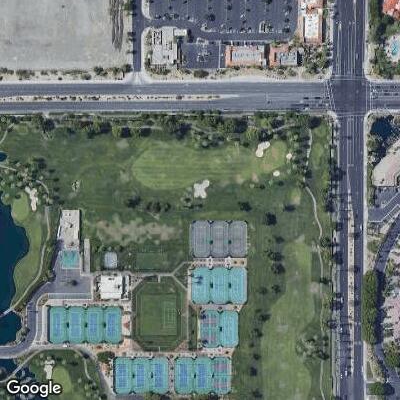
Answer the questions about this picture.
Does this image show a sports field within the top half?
No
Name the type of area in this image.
golf course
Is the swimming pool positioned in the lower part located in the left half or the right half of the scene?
left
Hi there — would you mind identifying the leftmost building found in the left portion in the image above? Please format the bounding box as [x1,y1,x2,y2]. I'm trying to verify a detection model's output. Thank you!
[57,211,79,247]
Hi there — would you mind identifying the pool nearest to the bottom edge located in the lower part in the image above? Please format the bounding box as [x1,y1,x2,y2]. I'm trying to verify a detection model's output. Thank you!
[60,251,80,270]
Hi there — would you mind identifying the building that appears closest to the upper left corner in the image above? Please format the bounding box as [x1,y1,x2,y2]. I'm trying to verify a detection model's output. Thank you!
[151,28,177,63]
